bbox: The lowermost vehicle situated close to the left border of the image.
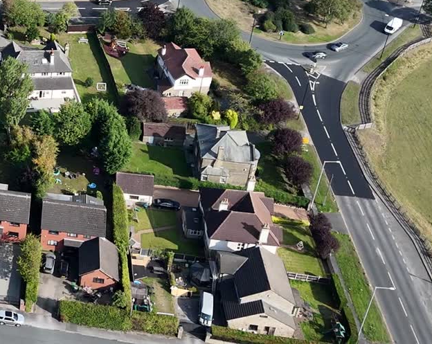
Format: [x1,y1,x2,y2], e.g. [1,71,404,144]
[0,308,25,326]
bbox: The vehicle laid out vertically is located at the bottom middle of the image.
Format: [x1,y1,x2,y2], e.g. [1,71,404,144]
[199,292,214,323]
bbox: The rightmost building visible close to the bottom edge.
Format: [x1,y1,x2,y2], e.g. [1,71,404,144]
[217,245,300,333]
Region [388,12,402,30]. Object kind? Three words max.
vehicle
